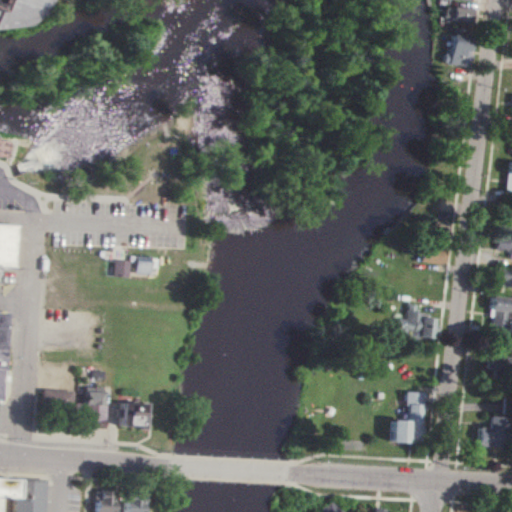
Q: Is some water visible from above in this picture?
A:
Yes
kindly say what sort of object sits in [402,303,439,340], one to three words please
house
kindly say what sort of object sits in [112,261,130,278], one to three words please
building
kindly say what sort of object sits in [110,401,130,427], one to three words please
house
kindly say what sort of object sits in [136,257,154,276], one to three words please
building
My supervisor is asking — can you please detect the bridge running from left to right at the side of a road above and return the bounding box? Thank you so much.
[188,456,292,486]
